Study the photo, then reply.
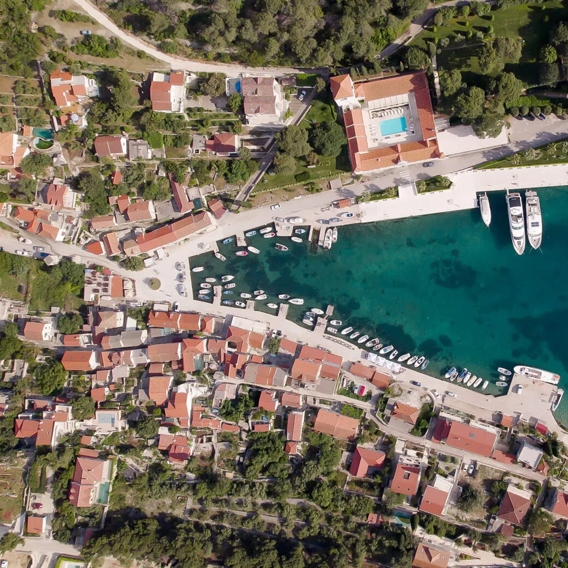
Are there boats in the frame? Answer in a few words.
Yes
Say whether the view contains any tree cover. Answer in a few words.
Yes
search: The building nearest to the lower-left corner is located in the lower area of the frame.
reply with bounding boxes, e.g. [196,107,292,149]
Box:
[23,513,47,536]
